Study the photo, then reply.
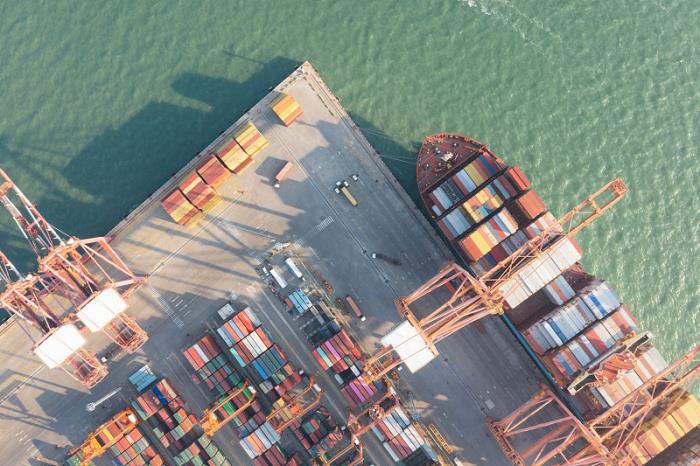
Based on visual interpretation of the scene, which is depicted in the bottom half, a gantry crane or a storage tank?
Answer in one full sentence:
It is a gantry crane that can be seen in the bottom half.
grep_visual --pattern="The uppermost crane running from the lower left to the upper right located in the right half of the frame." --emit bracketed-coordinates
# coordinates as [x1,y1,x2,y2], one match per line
[353,176,628,383]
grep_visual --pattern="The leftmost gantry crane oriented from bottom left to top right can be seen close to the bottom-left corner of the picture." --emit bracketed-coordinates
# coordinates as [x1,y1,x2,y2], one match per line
[68,402,147,466]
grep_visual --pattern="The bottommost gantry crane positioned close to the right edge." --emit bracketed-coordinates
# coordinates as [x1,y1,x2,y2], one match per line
[486,339,700,466]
